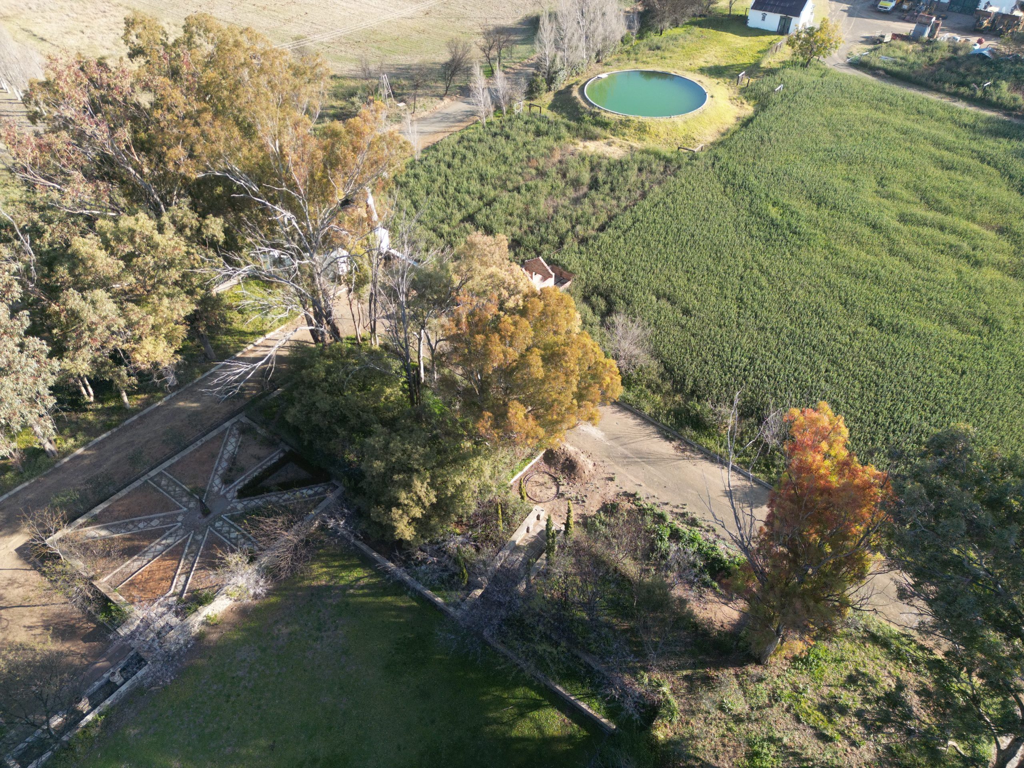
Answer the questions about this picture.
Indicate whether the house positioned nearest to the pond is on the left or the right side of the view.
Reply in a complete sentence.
It is on the right.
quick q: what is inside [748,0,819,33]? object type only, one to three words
house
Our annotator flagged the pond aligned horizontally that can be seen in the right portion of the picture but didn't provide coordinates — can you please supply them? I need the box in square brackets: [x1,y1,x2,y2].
[583,71,710,123]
